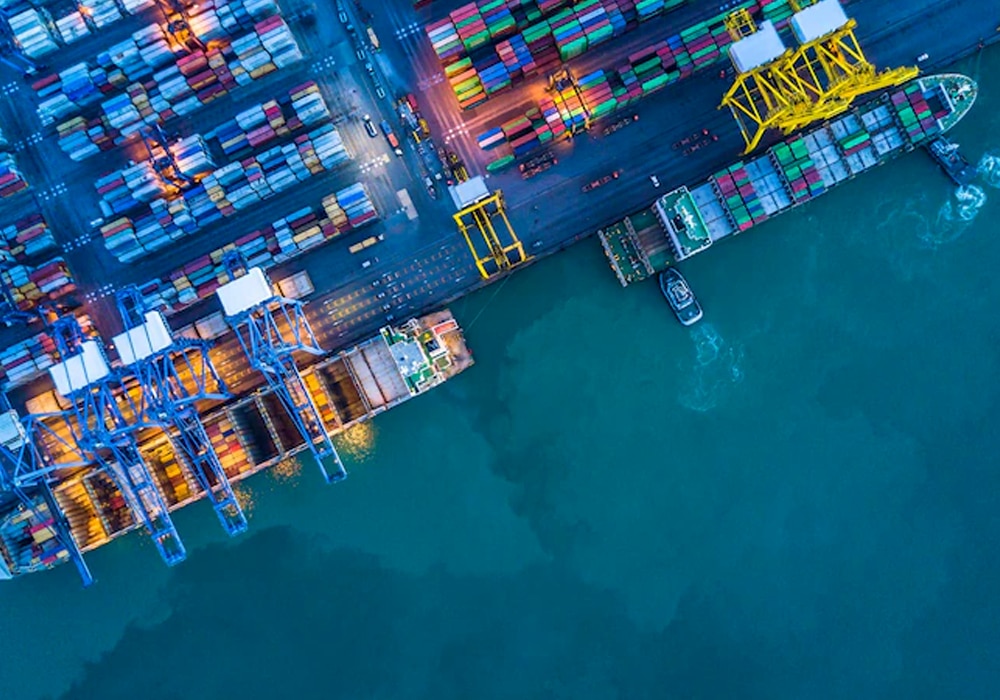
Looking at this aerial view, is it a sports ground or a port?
port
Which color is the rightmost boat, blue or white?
blue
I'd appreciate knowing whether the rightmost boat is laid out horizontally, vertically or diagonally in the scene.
diagonally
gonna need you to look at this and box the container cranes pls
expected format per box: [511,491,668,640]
[138,118,203,192]
[215,246,349,488]
[52,321,188,566]
[773,0,931,130]
[441,146,530,282]
[154,0,209,62]
[113,292,250,536]
[541,57,593,139]
[0,358,123,586]
[715,3,862,157]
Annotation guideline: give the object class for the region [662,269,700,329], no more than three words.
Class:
boat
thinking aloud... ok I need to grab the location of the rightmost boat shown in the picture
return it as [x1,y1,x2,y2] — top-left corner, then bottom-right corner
[927,141,979,189]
